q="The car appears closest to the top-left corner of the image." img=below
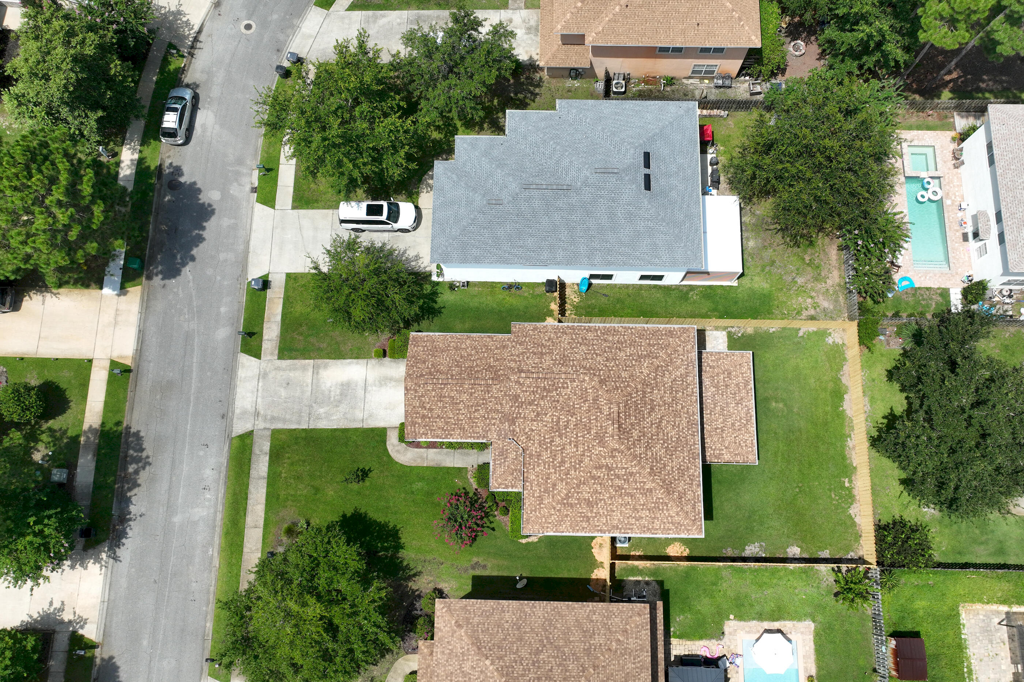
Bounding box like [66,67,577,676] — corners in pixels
[157,84,194,144]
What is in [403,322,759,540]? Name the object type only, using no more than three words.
house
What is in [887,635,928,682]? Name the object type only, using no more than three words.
shed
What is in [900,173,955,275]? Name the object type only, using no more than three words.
swimming pool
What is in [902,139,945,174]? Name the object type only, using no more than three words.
swimming pool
